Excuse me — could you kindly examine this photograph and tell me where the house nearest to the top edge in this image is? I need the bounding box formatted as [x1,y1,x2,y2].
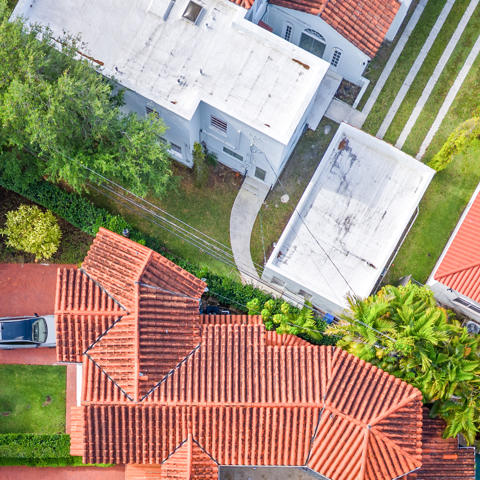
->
[9,0,413,206]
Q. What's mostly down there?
buildings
